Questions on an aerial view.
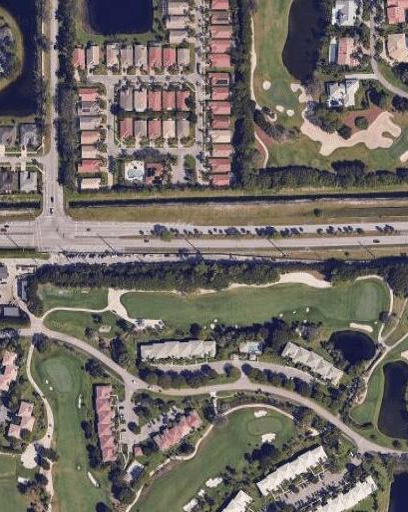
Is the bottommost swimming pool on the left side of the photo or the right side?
left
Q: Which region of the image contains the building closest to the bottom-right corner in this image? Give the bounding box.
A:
[309,479,378,512]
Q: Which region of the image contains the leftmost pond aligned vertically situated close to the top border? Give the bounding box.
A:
[282,0,333,86]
